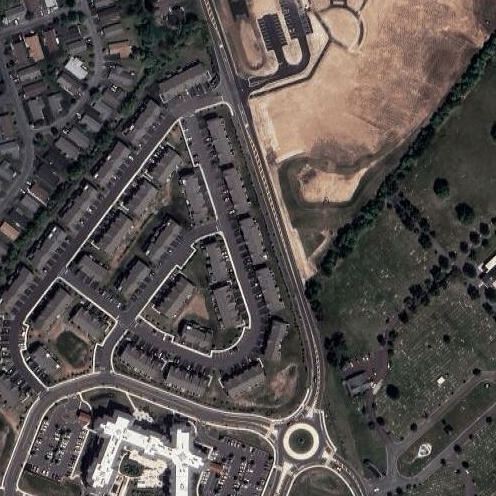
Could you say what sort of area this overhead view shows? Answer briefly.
residential area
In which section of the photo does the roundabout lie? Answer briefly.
bottom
